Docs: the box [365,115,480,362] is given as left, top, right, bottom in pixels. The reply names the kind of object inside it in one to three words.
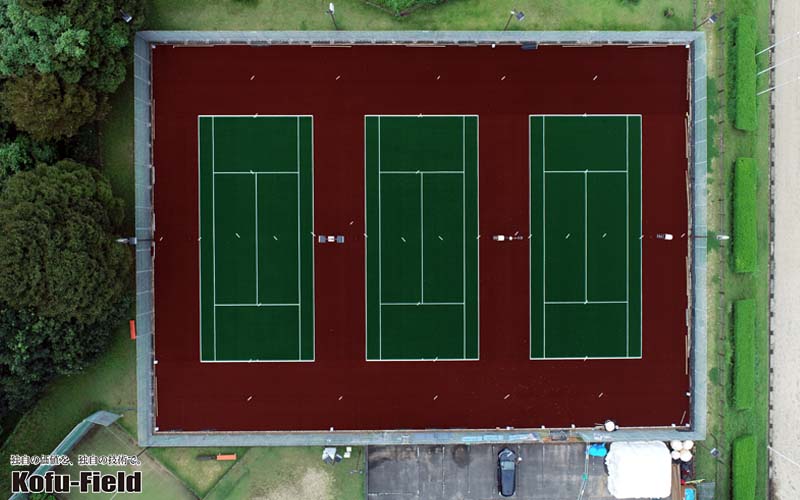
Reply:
tennis court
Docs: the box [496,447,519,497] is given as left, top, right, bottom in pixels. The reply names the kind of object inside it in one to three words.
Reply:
car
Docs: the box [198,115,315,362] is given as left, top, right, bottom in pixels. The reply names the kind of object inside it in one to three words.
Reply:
tennis court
